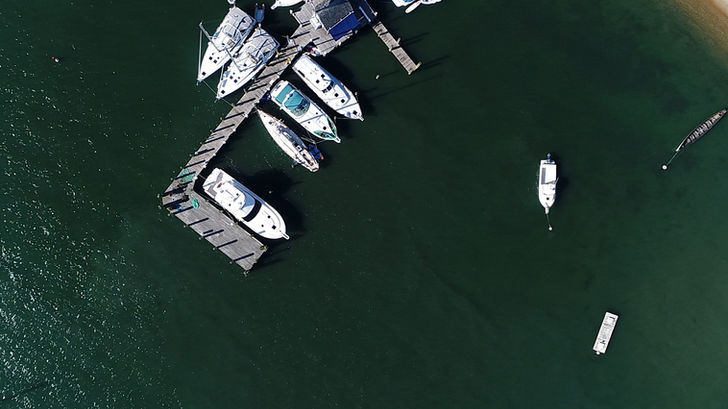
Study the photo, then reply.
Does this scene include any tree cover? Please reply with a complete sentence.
No, there is no tree cover in the image.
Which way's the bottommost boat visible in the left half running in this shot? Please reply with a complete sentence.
The bottommost boat visible in the left half has been laid out on a diagonal relative to the frame.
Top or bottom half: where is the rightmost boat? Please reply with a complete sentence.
Seen from above, the rightmost boat lies in the top half of the view.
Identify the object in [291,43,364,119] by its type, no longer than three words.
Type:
boat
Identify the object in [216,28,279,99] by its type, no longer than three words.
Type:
boat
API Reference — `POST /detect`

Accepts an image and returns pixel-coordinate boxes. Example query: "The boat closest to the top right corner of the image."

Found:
[666,108,728,164]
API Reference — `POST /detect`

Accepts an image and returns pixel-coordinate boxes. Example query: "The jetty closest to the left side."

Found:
[158,0,380,275]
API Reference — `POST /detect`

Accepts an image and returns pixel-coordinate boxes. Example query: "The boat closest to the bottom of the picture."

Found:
[594,312,619,354]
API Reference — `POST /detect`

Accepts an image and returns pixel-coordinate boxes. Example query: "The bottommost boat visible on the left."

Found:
[198,166,289,239]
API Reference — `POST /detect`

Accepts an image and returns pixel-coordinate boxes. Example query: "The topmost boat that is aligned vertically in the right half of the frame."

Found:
[539,154,560,228]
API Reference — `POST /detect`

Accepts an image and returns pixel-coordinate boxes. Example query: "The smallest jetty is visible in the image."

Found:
[373,21,420,78]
